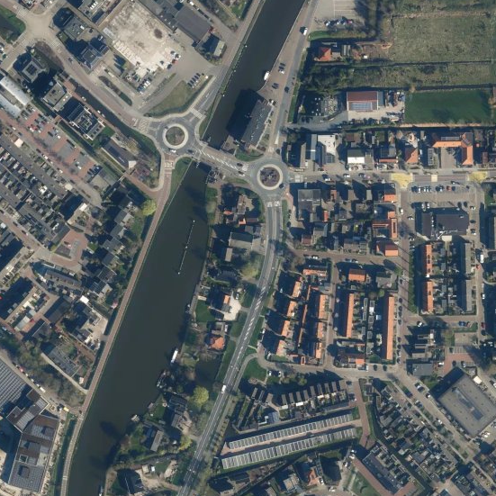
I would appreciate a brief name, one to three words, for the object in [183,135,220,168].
bridge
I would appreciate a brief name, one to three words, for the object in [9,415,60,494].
building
